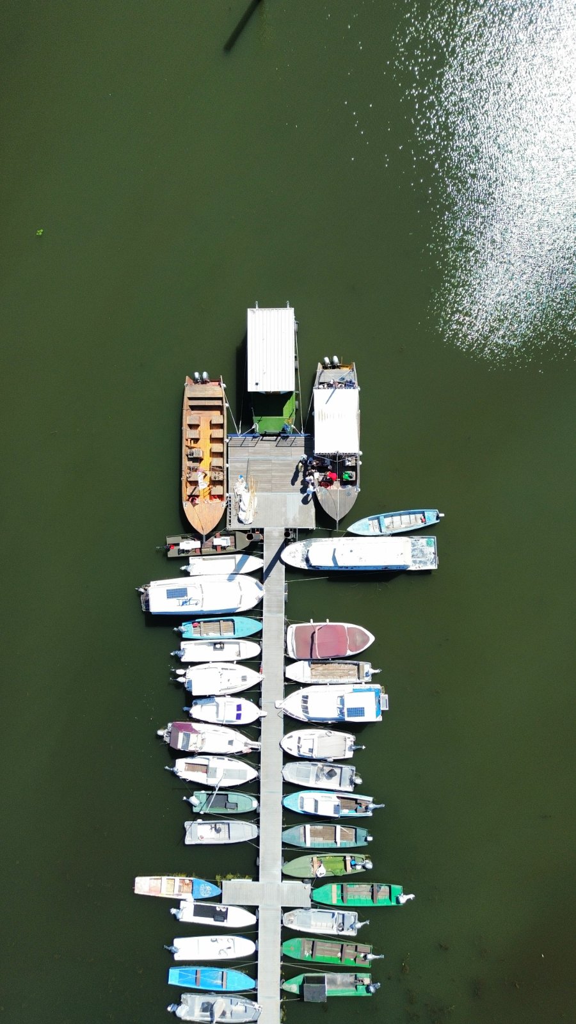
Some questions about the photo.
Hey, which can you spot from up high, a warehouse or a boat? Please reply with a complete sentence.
I can see a boat in this picture.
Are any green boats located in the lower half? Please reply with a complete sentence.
Yes, a green boat can be seen in the lower half.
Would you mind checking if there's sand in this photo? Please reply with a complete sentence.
No, sand can't be seen anywhere here.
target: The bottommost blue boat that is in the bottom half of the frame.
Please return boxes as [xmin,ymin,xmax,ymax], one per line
[168,962,257,992]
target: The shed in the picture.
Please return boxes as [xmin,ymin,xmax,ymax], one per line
[239,302,305,435]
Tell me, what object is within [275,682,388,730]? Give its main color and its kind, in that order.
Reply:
white boat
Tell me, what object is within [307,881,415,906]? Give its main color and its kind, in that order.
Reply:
green boat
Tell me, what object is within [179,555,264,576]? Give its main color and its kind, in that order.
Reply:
white boat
